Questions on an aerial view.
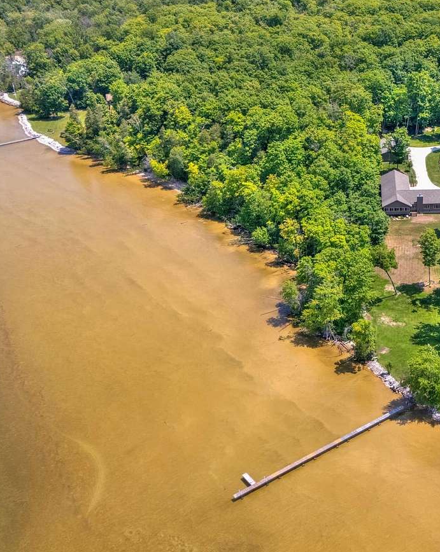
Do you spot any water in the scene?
Yes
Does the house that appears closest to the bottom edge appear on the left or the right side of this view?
right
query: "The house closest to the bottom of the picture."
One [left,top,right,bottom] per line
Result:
[380,168,440,217]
